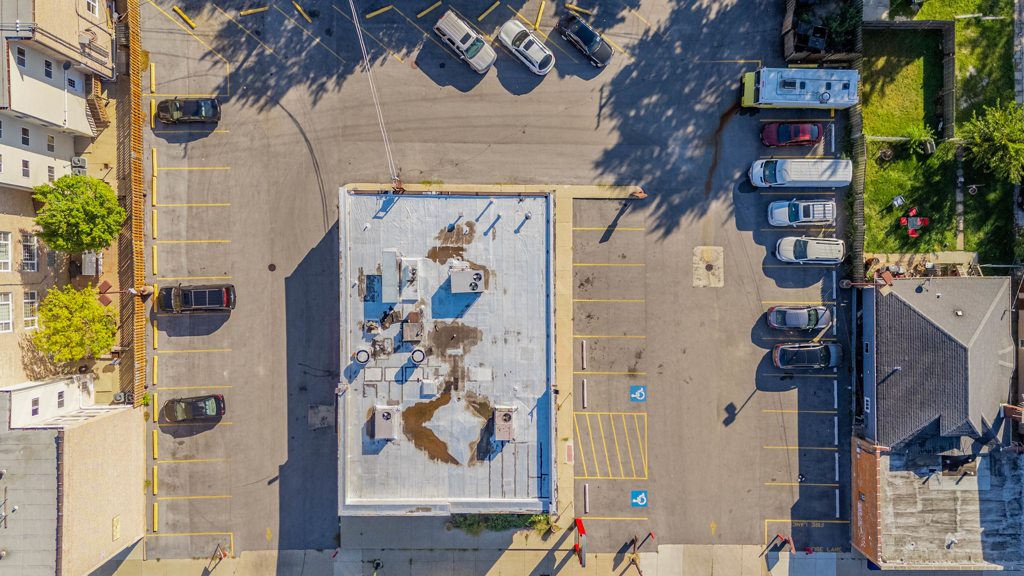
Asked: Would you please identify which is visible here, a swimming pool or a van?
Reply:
van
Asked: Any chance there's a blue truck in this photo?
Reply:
Yes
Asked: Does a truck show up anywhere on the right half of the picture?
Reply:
Yes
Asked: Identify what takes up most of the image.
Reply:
paved ground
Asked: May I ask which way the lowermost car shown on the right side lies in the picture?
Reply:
from left to right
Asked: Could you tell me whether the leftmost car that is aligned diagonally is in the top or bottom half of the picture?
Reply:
top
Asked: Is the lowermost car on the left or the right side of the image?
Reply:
left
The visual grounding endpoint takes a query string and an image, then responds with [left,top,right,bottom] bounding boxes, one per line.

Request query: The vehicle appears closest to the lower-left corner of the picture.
[163,395,228,426]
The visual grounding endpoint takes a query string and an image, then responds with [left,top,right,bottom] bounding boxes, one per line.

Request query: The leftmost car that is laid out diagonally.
[436,12,495,71]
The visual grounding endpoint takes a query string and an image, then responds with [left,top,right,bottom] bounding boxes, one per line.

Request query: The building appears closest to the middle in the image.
[337,190,558,518]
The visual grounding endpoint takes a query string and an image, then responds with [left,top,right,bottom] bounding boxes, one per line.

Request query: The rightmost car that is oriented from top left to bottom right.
[556,14,615,68]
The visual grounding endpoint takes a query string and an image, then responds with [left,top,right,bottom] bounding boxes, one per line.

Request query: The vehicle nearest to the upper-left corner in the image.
[156,92,222,124]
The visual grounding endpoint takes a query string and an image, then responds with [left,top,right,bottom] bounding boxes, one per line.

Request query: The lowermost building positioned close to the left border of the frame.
[0,406,145,576]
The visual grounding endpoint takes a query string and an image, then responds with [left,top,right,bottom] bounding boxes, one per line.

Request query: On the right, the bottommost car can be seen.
[769,339,839,371]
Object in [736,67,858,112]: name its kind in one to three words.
truck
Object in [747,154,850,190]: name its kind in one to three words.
van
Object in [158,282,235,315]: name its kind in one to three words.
car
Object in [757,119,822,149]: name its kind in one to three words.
car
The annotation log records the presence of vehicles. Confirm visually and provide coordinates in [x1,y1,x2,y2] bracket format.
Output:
[769,339,839,371]
[757,119,822,149]
[764,198,833,229]
[436,12,495,71]
[747,154,850,190]
[163,395,228,426]
[500,20,555,76]
[158,282,235,315]
[764,302,831,333]
[736,67,858,112]
[156,92,222,124]
[556,14,615,68]
[772,235,843,267]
